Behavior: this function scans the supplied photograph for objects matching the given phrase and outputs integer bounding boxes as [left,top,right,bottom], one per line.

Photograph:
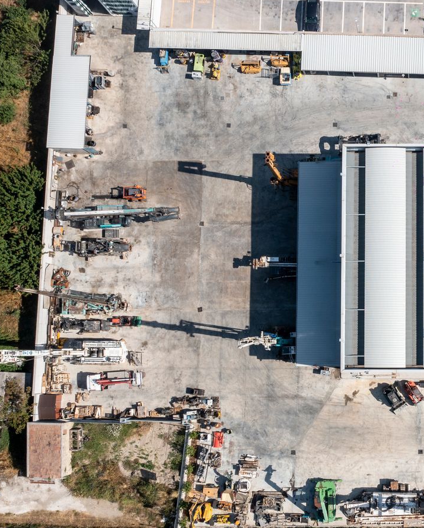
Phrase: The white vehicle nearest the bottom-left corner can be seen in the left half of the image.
[87,371,142,391]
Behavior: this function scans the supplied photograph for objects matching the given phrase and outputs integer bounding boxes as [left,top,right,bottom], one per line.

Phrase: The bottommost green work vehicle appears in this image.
[310,478,343,525]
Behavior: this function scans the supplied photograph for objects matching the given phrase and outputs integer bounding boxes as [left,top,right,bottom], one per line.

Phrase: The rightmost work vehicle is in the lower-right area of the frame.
[403,382,424,408]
